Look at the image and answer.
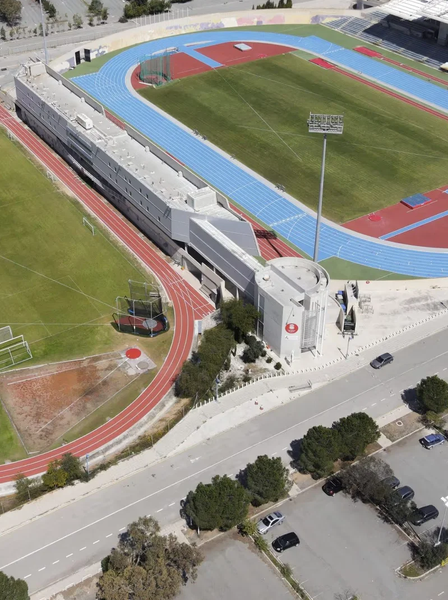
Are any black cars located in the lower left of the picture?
No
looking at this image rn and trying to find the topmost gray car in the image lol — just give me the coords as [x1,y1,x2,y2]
[371,350,395,368]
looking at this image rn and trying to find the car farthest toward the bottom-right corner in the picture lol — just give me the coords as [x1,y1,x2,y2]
[416,499,442,519]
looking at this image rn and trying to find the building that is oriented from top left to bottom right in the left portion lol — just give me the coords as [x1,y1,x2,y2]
[17,67,267,311]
